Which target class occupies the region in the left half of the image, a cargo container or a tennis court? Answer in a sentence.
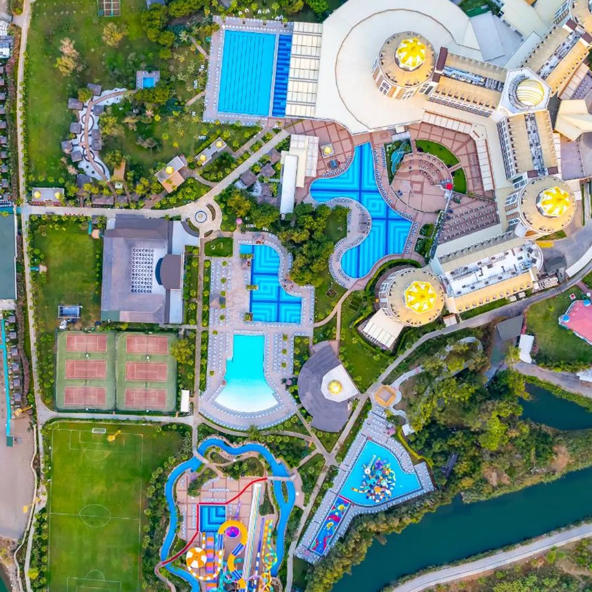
You can see a tennis court in the left half of the image.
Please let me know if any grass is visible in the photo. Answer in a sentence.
Yes, there is grass in the image.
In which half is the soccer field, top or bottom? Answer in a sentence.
The bottom half of the photo is where the soccer field is.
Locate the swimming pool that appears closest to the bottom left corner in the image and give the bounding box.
[199,506,226,534]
